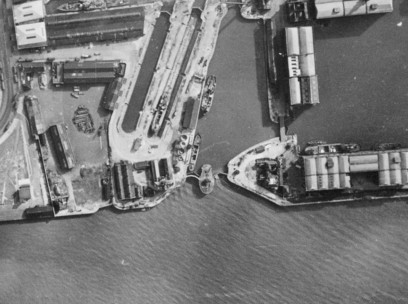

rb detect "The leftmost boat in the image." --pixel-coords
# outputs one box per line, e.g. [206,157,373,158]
[35,74,51,90]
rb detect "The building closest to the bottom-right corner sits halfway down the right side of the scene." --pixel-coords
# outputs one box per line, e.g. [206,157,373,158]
[375,168,408,185]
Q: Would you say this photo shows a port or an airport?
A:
port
